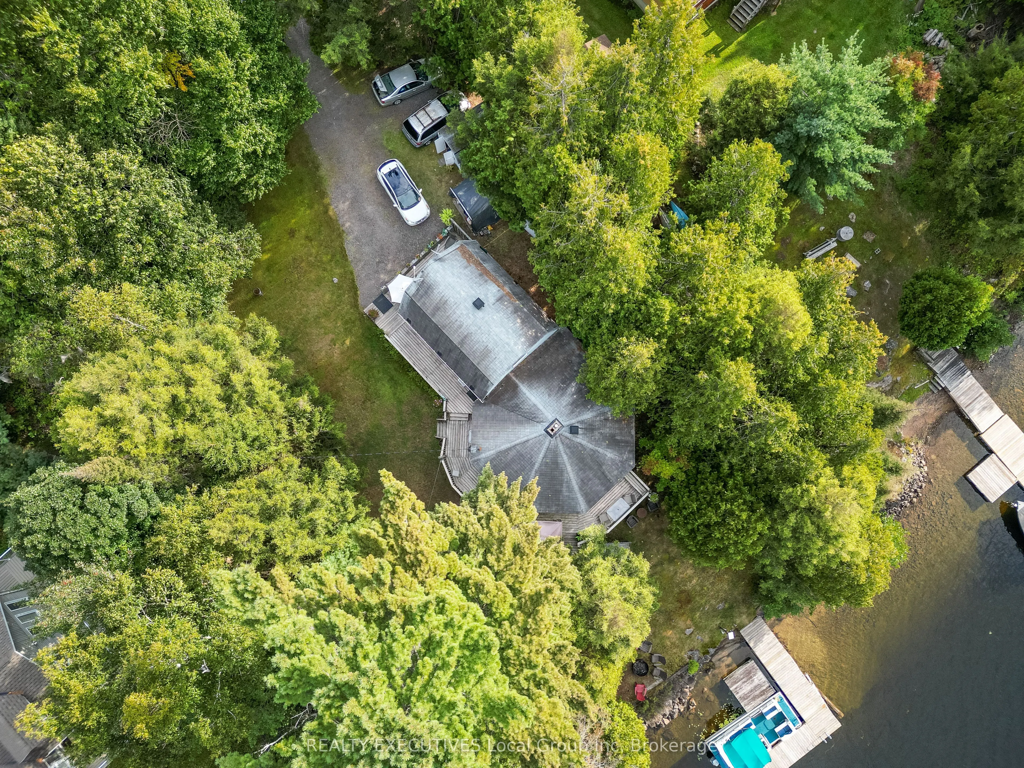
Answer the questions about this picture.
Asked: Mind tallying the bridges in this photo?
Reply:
0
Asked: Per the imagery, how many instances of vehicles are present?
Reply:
three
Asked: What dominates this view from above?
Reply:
trees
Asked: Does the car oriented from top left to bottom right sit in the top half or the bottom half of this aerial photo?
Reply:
top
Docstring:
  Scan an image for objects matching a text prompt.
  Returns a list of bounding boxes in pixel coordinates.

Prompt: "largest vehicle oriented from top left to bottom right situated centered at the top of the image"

[375,156,432,229]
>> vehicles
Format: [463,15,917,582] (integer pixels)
[375,156,432,229]
[374,53,444,105]
[404,91,463,147]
